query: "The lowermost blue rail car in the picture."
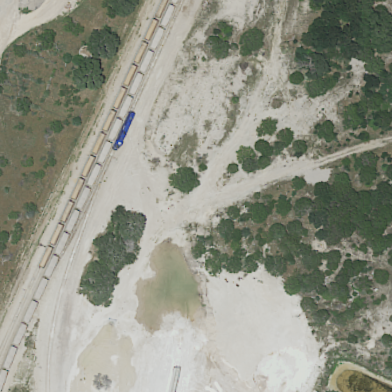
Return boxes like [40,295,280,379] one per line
[113,131,126,150]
